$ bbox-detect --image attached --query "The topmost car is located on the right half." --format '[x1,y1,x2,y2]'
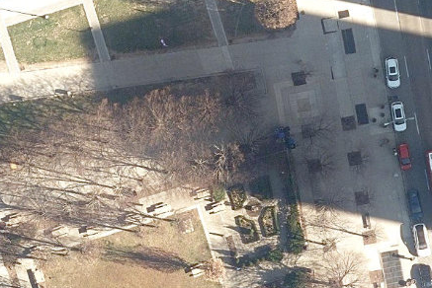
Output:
[385,57,402,89]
